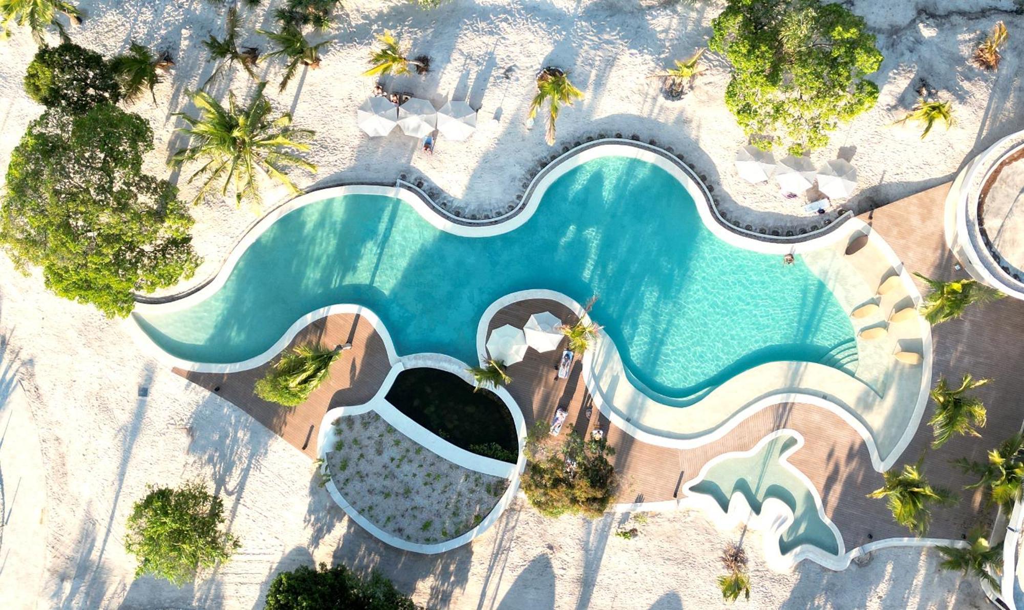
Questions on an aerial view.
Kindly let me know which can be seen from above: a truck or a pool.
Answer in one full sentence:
There is a pool in the scene.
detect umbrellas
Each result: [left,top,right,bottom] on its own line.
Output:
[524,311,565,353]
[437,101,477,140]
[776,155,815,194]
[817,158,857,199]
[736,144,776,184]
[358,98,397,137]
[397,98,437,138]
[487,325,526,364]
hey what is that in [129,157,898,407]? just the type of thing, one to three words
swimming pool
